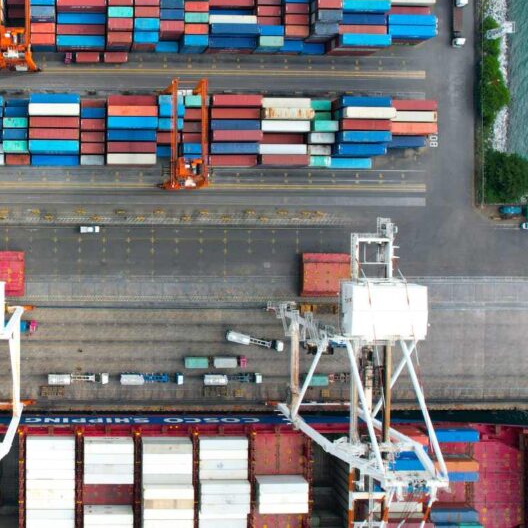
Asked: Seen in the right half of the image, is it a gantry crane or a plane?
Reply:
gantry crane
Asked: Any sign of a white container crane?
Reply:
Yes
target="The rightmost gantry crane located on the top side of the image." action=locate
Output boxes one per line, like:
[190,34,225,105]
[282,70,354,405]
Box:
[149,81,206,195]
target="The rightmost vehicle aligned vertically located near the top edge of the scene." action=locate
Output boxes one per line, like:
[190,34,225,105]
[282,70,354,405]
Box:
[451,0,466,47]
